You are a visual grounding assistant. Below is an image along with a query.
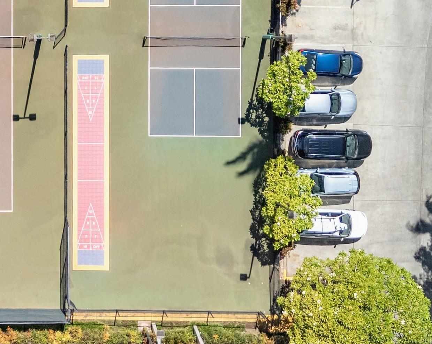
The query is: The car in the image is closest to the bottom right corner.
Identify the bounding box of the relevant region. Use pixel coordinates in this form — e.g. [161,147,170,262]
[294,209,366,244]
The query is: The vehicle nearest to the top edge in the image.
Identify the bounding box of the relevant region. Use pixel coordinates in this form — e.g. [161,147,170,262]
[296,47,362,81]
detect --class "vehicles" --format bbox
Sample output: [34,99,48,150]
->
[296,47,362,81]
[291,167,359,201]
[294,209,366,244]
[287,85,358,119]
[293,128,370,163]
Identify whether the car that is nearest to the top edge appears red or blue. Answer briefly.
blue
